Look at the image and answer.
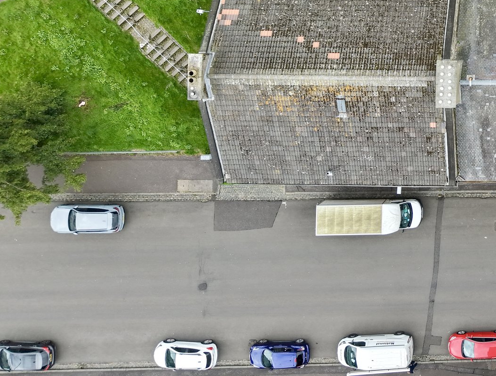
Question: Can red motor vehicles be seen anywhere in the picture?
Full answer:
Yes, I can see a red motor vehicle in this picture.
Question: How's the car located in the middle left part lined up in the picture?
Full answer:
What the image shows is the car located in the middle left part lying from left to right.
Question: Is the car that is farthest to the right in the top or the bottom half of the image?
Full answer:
It is in the bottom half that the car that is farthest to the right appears.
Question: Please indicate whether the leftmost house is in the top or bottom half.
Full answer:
The leftmost house is in the top half of the image.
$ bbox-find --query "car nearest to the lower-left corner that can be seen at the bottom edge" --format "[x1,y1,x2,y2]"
[0,340,61,376]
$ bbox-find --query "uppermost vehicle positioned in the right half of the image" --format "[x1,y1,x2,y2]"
[317,195,423,236]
